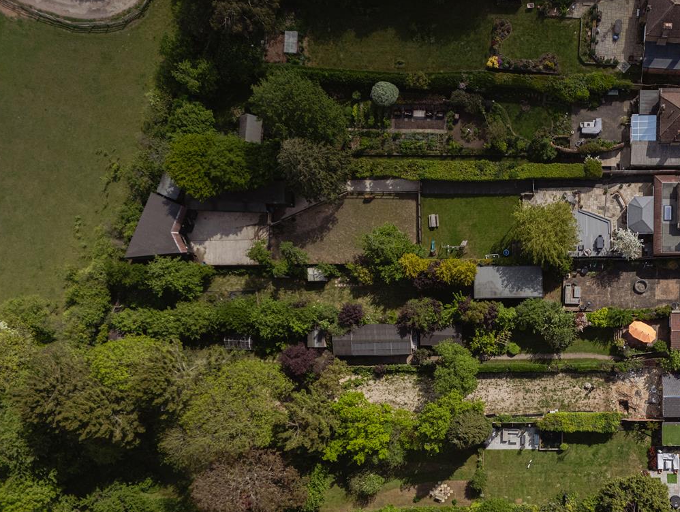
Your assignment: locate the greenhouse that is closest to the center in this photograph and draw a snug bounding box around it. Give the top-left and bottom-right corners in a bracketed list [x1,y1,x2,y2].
[307,267,330,281]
